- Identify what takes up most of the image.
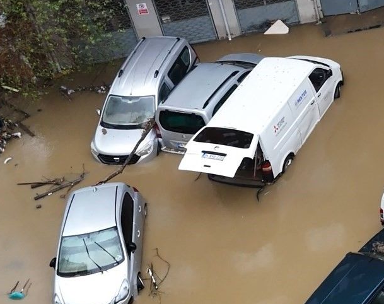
water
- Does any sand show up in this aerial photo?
No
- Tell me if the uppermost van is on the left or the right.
right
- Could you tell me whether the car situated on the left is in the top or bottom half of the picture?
bottom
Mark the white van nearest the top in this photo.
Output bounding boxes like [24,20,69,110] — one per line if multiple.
[183,58,345,185]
